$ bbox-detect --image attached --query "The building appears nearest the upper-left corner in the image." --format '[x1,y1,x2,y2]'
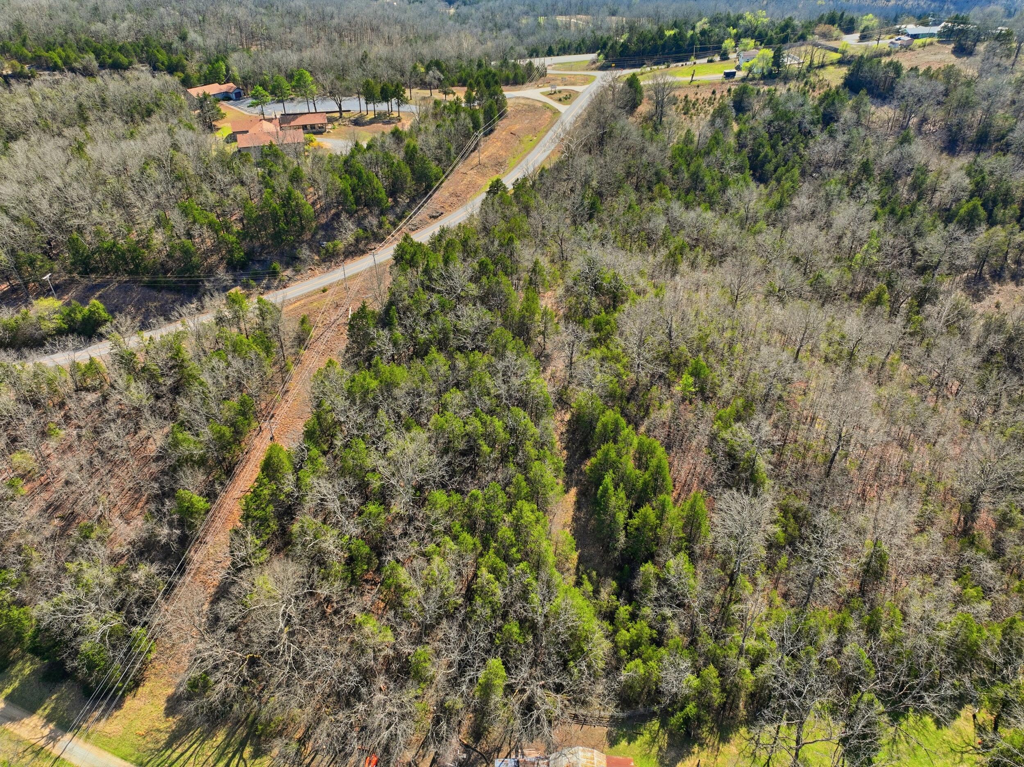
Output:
[190,83,249,101]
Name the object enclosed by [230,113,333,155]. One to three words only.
building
